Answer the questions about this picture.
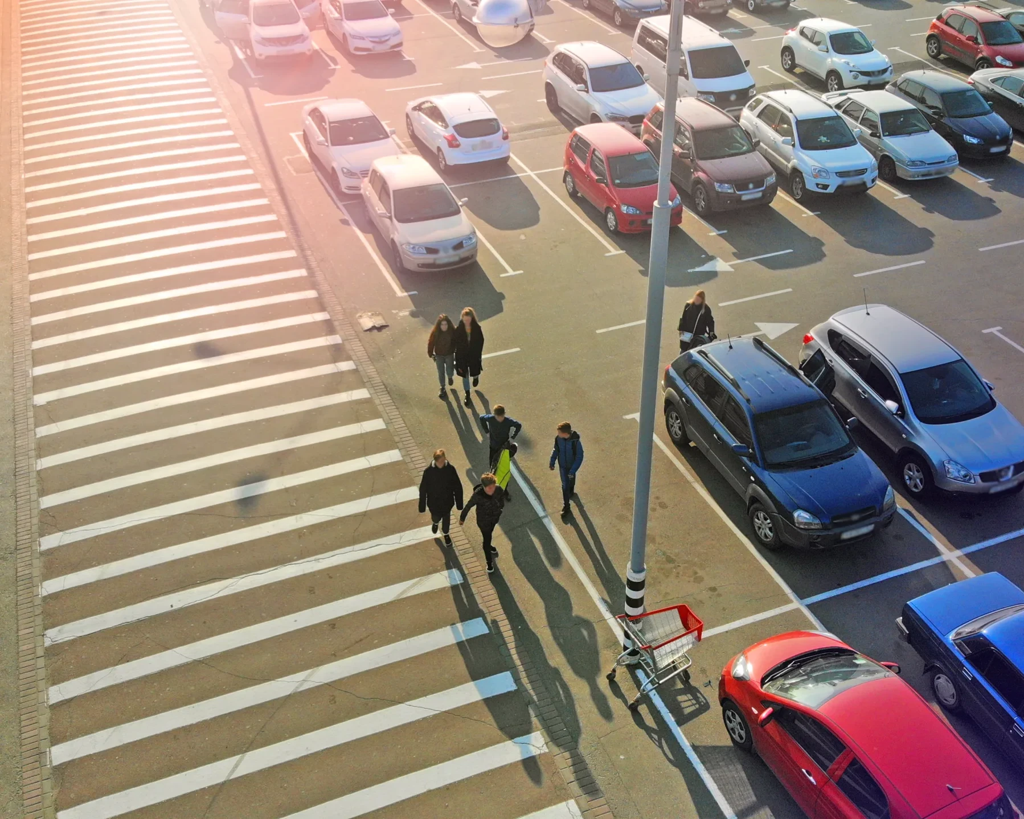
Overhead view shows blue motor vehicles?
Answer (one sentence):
Yes, this view includes a blue motor vehicle.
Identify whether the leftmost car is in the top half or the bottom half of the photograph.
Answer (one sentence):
It is in the top half that the leftmost car appears.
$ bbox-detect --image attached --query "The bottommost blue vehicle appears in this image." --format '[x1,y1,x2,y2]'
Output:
[892,570,1024,770]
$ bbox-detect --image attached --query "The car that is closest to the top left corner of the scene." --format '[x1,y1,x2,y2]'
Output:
[215,0,337,64]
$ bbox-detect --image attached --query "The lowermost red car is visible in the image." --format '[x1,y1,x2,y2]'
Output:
[721,630,1014,819]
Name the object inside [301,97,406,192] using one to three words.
car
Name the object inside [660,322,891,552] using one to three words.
car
